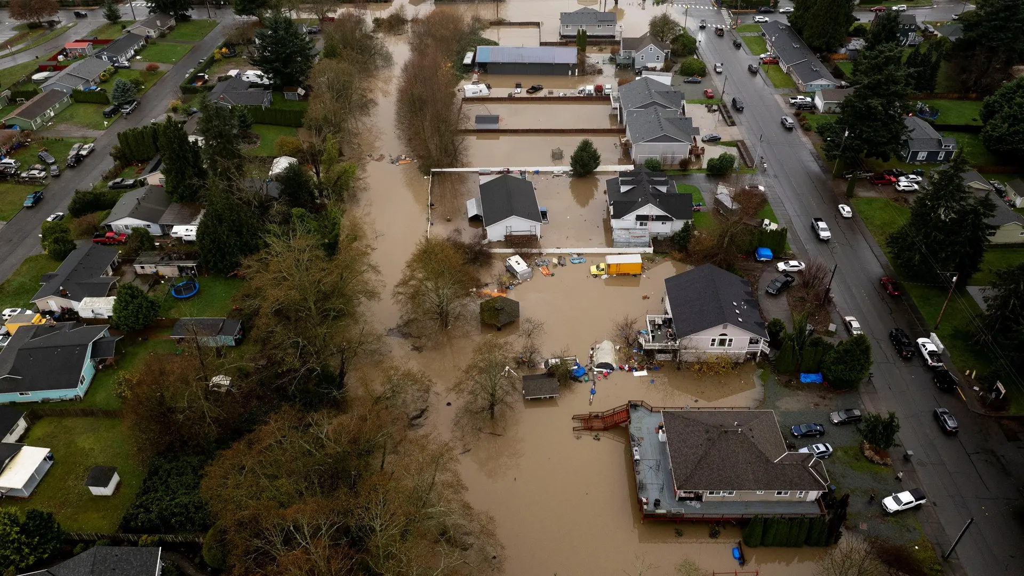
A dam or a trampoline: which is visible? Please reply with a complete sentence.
It is a trampoline that can be seen here.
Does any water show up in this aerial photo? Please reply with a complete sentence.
Yes, the picture does contain water.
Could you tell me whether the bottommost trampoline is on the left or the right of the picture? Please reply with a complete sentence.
The bottommost trampoline is on the left side of the image.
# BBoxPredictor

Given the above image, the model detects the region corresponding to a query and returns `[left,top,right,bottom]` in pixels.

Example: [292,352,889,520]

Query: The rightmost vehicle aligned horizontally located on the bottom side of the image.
[879,484,933,513]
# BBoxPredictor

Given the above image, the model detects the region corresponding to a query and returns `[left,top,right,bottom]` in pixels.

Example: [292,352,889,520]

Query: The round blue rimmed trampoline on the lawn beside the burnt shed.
[167,273,199,299]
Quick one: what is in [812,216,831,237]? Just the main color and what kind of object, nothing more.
white vehicle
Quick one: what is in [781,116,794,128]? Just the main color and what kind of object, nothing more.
gray vehicle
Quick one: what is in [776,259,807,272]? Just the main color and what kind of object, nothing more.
white vehicle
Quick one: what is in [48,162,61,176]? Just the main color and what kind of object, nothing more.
gray vehicle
